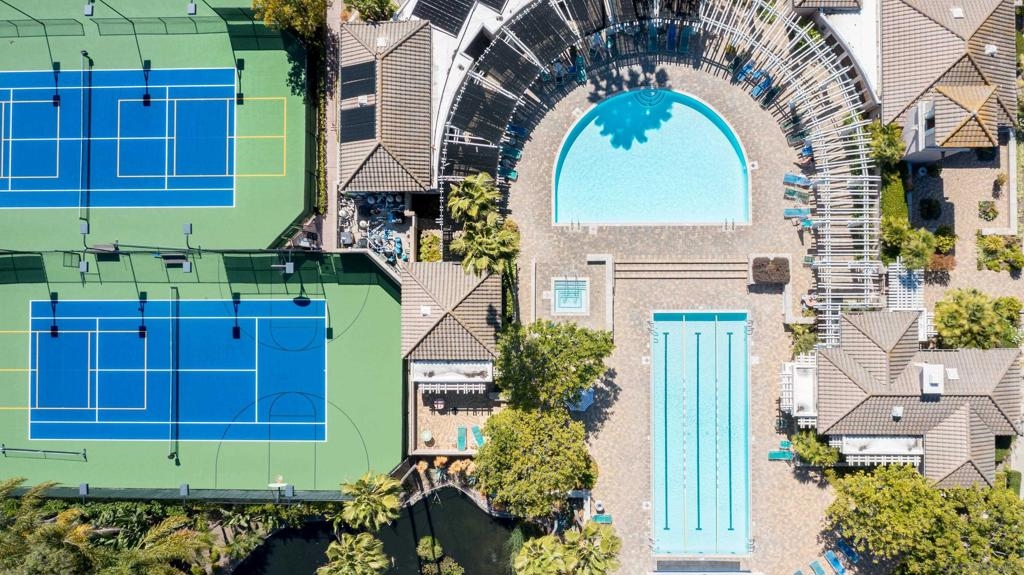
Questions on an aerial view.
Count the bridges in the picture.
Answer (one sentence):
Not a single bridge can be seen.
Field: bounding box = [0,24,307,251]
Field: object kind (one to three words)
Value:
tennis court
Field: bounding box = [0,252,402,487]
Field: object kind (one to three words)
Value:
sports court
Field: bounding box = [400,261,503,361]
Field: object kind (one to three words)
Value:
building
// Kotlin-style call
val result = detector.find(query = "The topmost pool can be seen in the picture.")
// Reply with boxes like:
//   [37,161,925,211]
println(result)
[550,86,752,227]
